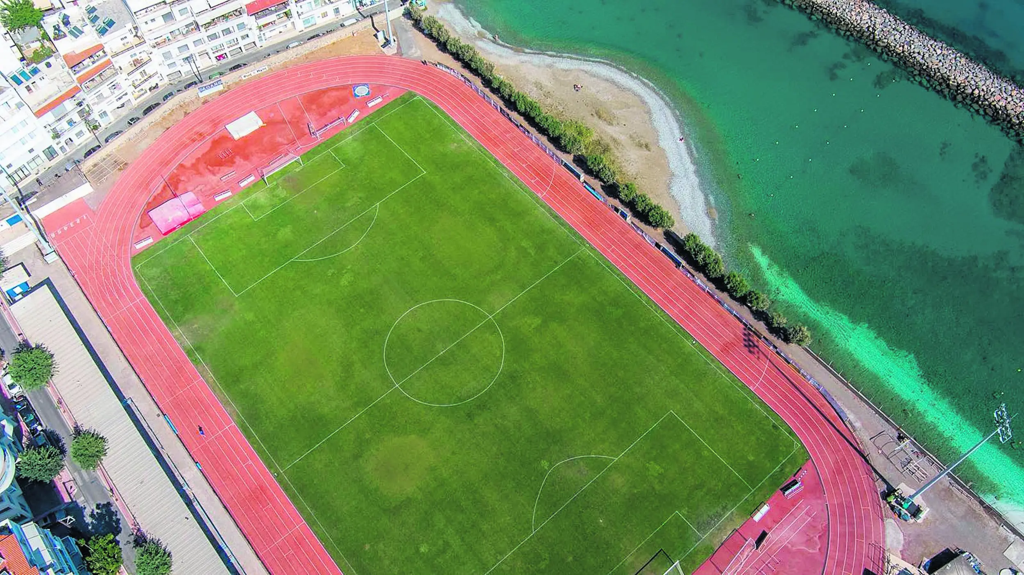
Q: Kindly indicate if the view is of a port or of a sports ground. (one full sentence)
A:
The area seen from above is a sports ground.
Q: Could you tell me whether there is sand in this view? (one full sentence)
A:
Yes, sand shows up in the scene.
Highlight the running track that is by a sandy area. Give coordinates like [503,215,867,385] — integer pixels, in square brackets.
[38,54,884,575]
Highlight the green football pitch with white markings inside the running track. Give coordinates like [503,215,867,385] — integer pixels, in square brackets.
[130,89,812,575]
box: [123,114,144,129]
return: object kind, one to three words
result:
car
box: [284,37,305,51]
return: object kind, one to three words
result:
car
